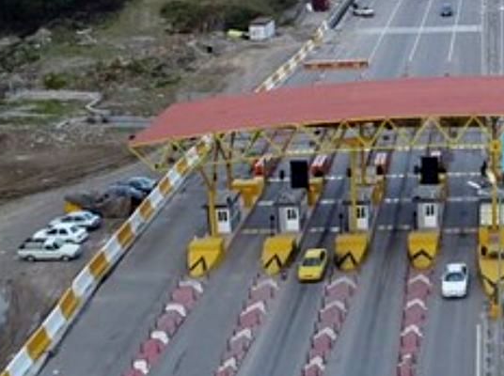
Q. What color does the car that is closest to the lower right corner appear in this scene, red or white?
white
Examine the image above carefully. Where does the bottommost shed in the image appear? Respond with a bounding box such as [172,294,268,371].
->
[248,19,277,40]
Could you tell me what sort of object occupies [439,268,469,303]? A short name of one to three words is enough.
car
